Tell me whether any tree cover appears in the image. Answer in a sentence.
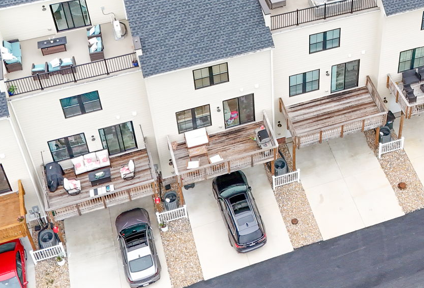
No, no tree cover is visible.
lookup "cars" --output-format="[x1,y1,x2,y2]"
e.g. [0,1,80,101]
[215,176,268,254]
[0,241,31,288]
[114,206,159,288]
